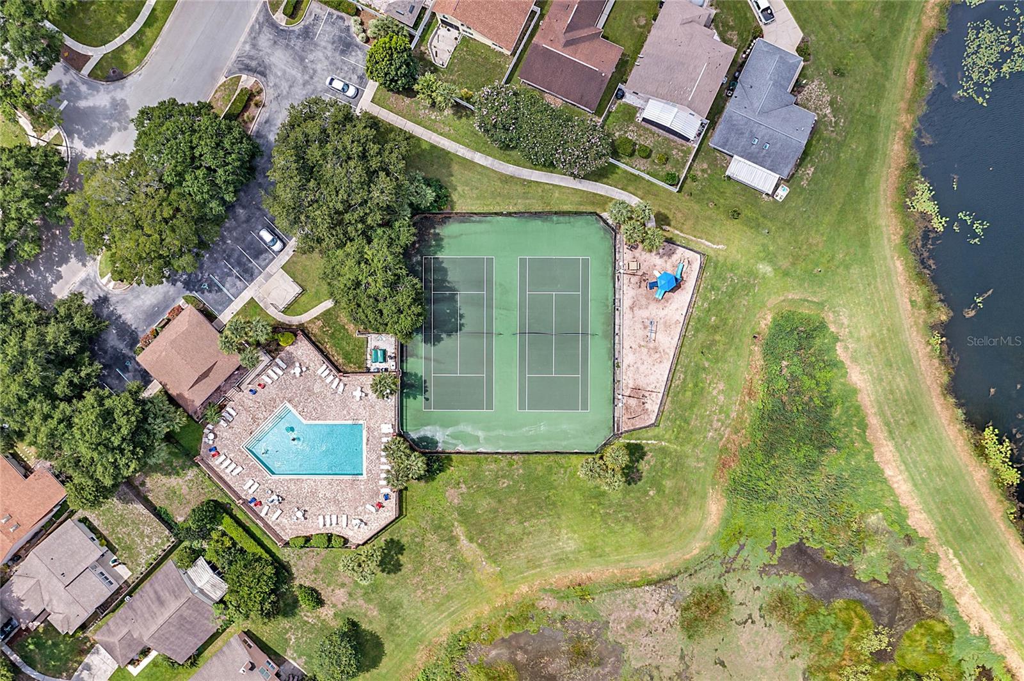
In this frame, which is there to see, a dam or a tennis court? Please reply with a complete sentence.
This aerial view contains a tennis court.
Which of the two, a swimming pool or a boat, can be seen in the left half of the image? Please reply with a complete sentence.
It is a swimming pool that can be seen in the left half of the image.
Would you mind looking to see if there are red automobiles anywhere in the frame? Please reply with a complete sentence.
No, no red automobile is visible in the view.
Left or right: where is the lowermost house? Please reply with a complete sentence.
You can find the lowermost house on the left side of the picture.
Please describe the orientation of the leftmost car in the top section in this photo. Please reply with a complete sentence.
The leftmost car in the top section is oriented on a diagonal.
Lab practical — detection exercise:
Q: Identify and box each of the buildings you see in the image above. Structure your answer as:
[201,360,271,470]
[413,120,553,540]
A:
[708,39,816,194]
[625,0,736,142]
[384,0,430,29]
[0,518,126,634]
[0,450,70,561]
[94,556,228,668]
[432,0,537,57]
[137,306,242,415]
[189,631,278,681]
[519,0,623,114]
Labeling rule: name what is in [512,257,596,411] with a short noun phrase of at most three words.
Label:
tennis court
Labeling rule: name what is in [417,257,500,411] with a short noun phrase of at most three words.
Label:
tennis court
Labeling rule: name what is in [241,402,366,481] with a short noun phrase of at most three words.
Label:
swimming pool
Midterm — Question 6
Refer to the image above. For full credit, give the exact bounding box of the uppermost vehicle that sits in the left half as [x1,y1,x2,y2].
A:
[327,76,358,99]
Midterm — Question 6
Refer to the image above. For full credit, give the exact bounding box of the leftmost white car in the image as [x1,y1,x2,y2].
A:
[258,227,284,253]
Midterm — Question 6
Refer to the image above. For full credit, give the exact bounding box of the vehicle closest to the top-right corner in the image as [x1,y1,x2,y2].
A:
[750,0,775,25]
